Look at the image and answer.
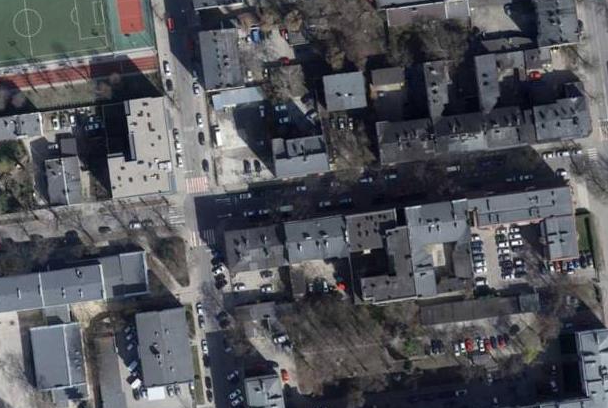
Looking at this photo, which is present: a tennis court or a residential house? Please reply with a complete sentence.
There is a residential house in the scene.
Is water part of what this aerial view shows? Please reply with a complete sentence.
No, there is no water in the image.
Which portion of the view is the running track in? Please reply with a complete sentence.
You can find the running track in the top left area of the picture.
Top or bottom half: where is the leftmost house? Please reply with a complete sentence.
The leftmost house sits in the top half of the picture.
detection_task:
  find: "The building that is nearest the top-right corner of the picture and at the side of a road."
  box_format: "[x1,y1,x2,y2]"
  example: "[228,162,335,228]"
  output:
[532,0,579,47]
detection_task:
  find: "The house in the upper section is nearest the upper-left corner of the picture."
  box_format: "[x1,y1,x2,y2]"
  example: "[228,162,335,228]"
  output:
[0,112,45,139]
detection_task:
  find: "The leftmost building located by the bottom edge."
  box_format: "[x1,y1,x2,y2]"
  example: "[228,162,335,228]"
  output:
[30,321,88,408]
